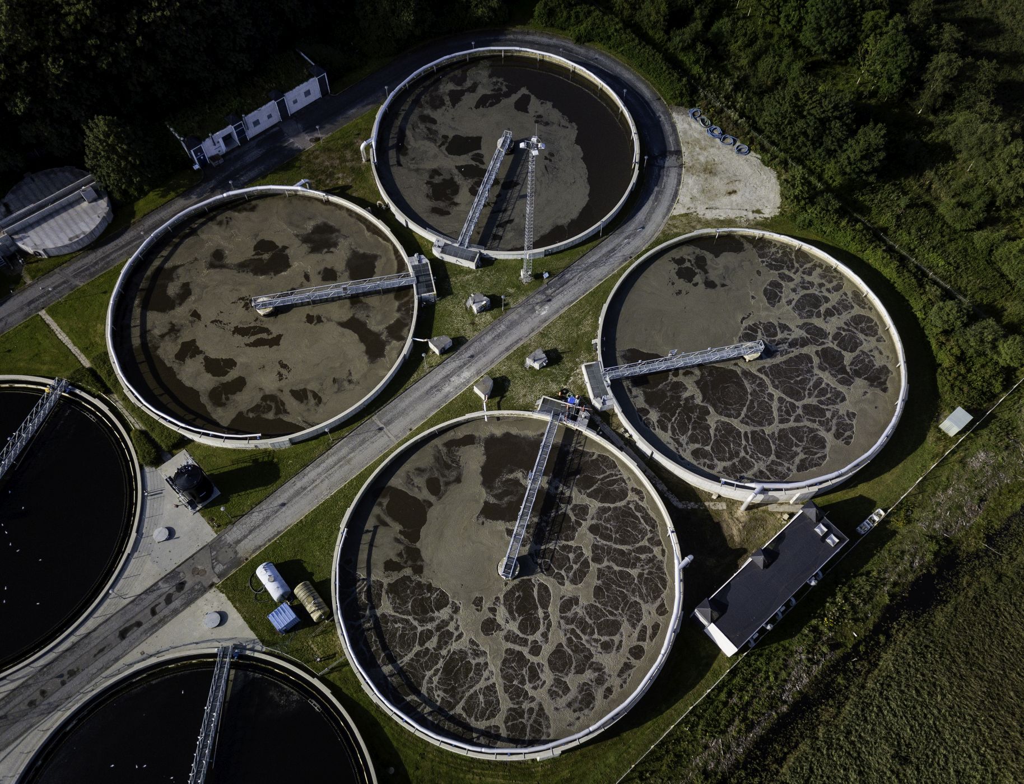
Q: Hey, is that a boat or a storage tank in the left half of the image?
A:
storage tank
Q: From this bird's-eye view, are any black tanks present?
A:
Yes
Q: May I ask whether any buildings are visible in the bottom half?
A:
Yes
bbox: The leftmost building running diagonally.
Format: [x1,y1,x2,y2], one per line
[177,48,331,170]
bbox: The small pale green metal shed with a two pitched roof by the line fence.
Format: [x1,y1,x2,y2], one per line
[934,405,974,442]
